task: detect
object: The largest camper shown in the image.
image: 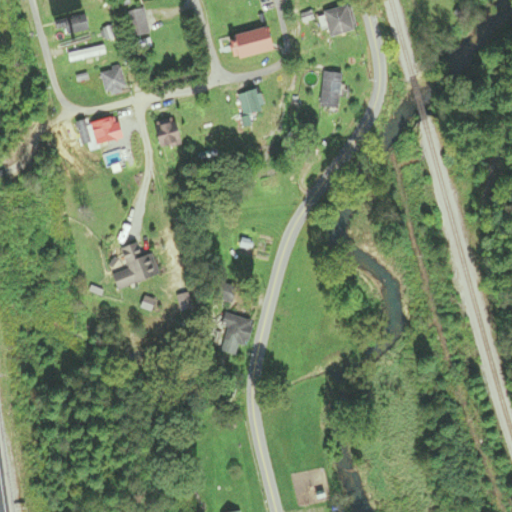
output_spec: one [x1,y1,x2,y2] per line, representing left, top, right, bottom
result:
[118,223,130,245]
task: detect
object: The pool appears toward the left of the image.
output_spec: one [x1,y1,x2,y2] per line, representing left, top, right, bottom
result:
[104,149,123,166]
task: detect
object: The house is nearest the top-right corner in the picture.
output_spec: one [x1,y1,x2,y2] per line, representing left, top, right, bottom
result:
[318,3,355,34]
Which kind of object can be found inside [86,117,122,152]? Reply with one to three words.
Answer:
house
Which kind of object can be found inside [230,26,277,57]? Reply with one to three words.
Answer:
building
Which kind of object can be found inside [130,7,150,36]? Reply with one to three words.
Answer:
house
